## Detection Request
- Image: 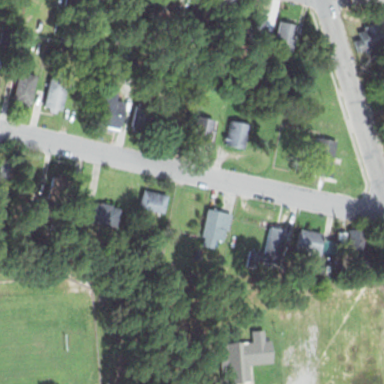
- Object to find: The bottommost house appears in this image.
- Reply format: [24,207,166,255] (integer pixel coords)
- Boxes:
[222,328,276,384]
